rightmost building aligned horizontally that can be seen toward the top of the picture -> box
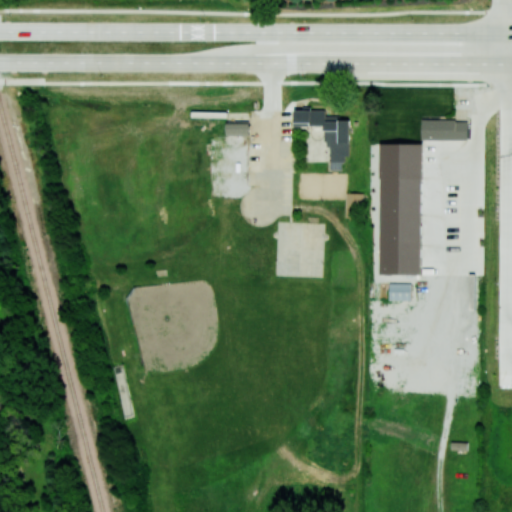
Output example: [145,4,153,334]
[422,120,470,140]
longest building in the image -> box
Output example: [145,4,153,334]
[380,144,421,275]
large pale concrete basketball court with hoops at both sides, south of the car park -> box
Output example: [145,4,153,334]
[273,222,330,278]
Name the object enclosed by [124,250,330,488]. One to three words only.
baseball field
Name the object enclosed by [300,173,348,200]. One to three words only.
sports court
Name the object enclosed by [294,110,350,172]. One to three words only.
house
